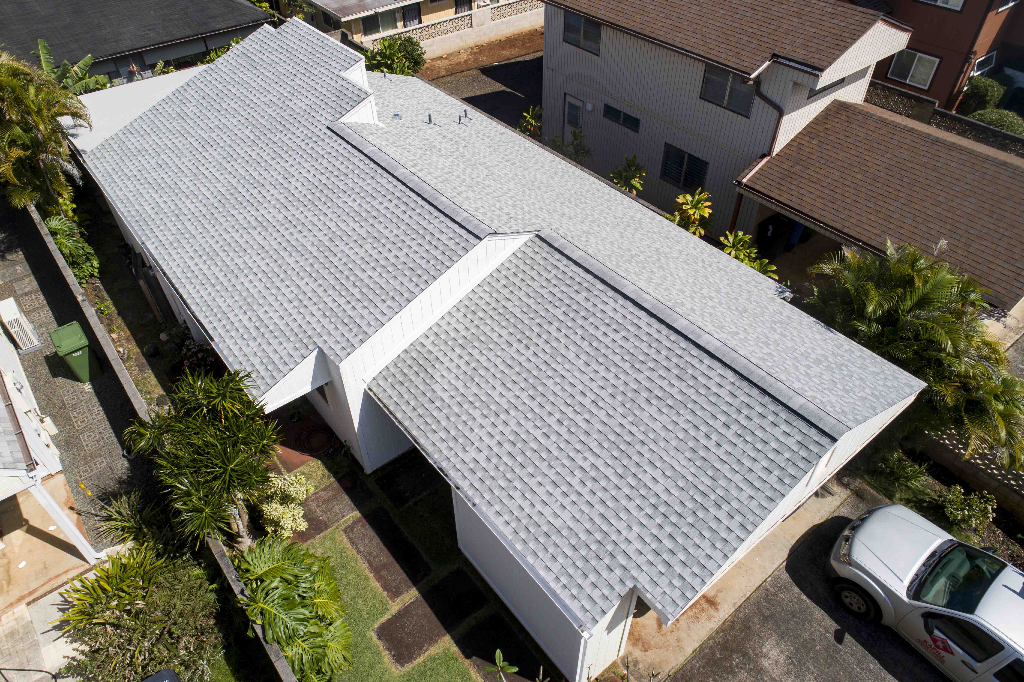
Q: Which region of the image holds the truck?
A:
bottom right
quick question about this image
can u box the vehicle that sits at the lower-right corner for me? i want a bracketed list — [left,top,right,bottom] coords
[828,508,1024,682]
